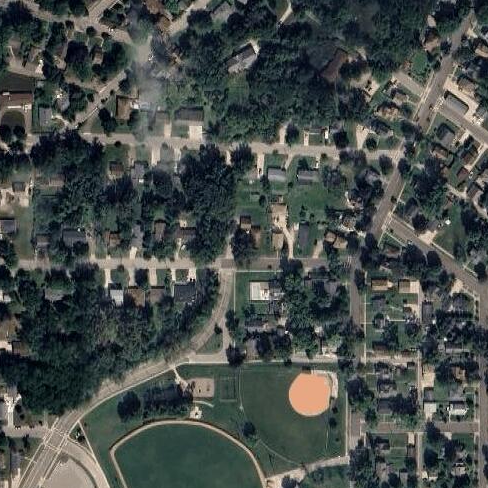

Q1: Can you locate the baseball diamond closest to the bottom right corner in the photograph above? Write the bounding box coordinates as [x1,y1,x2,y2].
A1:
[237,366,340,466]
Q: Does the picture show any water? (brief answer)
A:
No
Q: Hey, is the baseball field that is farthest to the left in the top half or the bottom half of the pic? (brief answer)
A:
bottom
